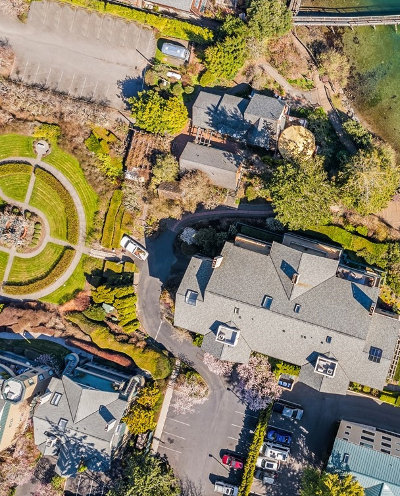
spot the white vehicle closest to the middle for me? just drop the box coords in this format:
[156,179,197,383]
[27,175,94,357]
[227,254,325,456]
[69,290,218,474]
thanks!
[118,237,153,261]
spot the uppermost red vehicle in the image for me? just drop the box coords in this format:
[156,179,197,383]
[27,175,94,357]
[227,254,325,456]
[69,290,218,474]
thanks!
[220,453,246,469]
